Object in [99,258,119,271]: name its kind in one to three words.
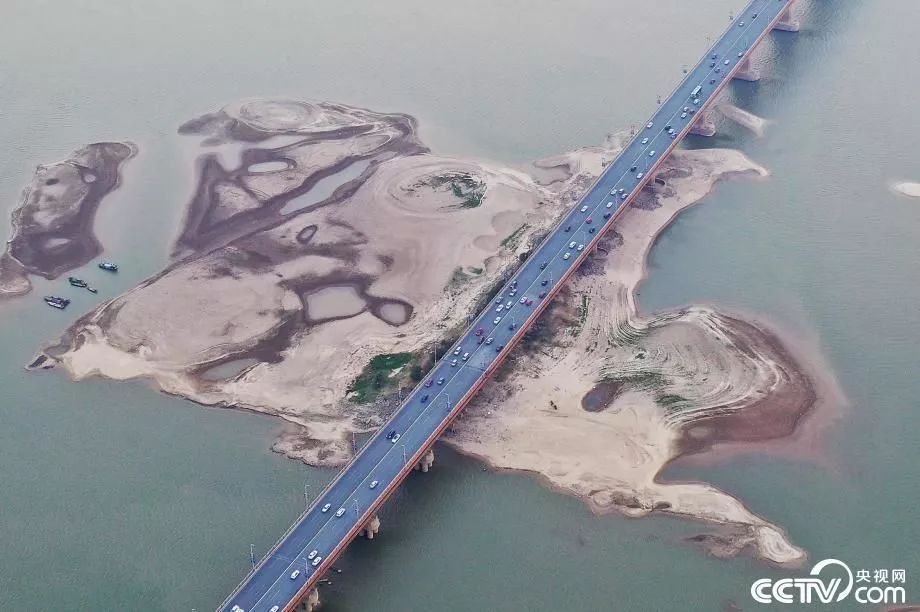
boat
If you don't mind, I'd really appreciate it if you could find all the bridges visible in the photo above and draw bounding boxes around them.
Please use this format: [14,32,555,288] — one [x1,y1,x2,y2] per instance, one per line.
[215,0,799,612]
